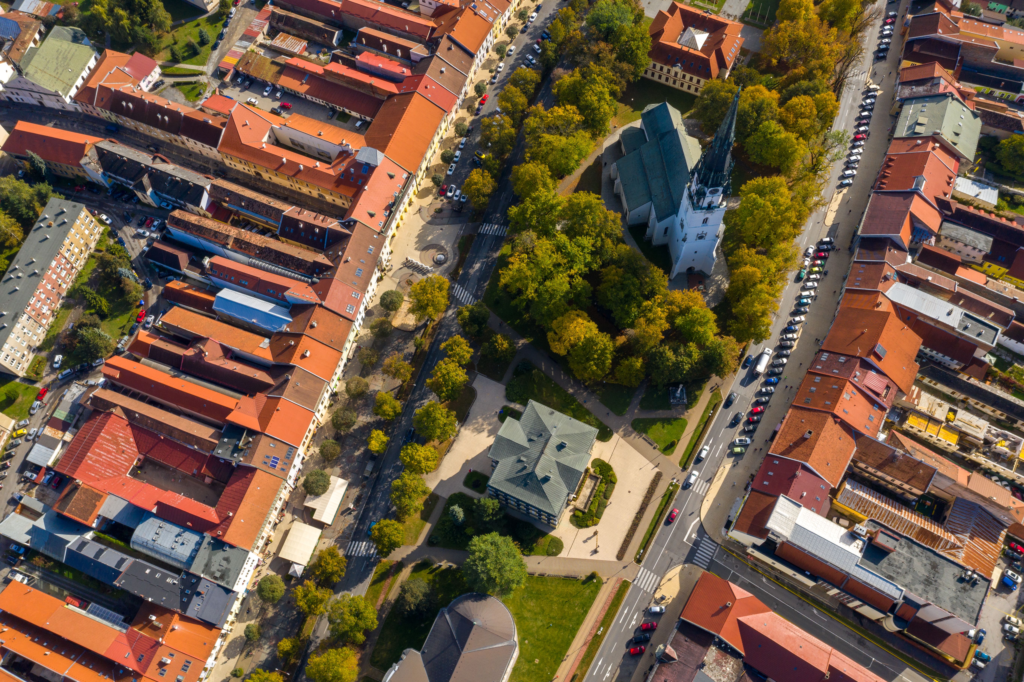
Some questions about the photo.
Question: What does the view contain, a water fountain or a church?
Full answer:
The one in the frame is a church.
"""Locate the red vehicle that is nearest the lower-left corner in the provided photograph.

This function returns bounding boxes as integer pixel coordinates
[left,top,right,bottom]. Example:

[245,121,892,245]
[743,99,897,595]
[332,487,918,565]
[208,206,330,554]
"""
[65,594,87,610]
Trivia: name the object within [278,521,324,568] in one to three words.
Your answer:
tent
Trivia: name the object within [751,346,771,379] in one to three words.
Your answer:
vehicle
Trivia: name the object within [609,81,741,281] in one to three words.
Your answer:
church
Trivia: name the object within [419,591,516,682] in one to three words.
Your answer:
building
